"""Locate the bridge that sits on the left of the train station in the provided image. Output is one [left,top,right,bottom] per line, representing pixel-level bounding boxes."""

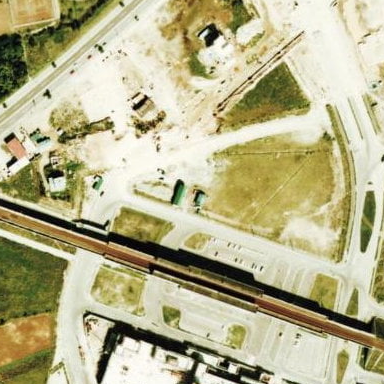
[0,205,111,258]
